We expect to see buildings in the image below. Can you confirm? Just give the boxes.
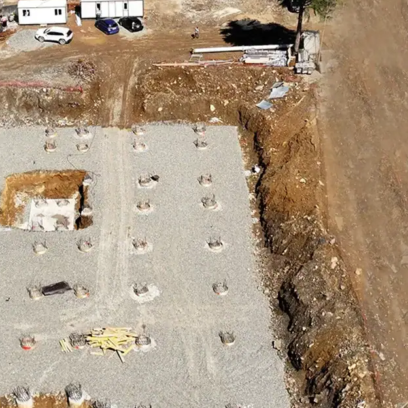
[18,0,67,24]
[81,0,144,18]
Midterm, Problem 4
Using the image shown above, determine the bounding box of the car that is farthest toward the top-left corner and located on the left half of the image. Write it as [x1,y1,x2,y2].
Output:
[33,23,74,43]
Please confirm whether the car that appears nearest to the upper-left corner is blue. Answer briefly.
No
